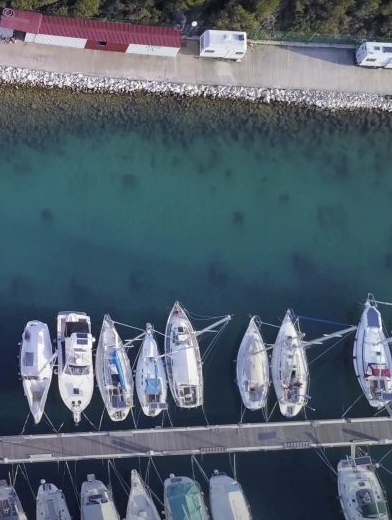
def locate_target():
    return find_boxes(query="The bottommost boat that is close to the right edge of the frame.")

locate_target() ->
[334,441,392,520]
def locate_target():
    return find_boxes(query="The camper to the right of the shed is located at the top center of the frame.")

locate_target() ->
[199,32,247,69]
